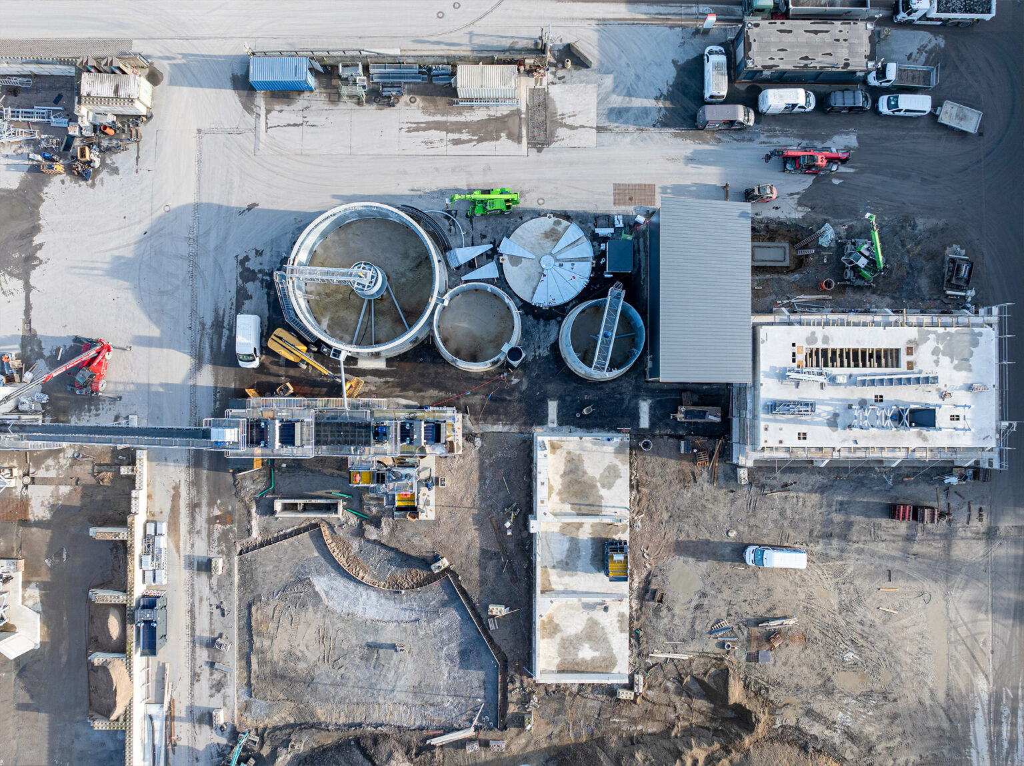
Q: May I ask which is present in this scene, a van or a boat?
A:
van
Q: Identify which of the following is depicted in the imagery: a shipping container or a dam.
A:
shipping container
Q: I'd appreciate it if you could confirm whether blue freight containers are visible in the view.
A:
Yes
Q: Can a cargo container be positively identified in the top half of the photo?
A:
Yes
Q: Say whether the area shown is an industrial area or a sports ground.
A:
industrial area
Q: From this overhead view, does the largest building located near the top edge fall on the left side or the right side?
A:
right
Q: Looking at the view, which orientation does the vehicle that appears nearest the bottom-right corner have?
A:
from left to right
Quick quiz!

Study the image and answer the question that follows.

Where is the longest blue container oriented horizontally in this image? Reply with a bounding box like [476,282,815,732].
[238,39,328,92]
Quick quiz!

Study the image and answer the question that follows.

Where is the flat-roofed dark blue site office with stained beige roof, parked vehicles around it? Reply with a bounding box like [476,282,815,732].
[731,13,884,88]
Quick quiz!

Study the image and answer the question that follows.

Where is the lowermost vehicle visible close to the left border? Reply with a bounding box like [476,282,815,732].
[0,332,133,405]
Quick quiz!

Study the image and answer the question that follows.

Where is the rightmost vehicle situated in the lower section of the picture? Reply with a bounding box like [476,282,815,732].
[738,541,809,568]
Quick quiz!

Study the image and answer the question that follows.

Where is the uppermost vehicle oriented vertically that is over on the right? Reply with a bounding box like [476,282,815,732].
[701,50,726,106]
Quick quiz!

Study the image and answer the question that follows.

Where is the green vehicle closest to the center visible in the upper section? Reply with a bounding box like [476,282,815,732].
[446,189,519,217]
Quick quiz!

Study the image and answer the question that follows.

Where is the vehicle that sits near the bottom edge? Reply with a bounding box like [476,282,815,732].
[216,722,262,766]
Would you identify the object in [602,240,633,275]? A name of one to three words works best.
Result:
shed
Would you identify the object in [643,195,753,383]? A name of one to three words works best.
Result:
building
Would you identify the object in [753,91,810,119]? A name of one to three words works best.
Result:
van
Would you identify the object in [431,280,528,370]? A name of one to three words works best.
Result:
storage tank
